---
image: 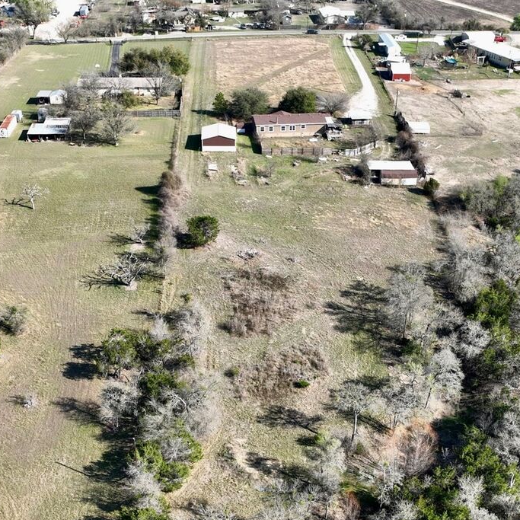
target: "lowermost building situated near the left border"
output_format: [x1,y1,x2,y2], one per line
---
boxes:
[25,111,69,140]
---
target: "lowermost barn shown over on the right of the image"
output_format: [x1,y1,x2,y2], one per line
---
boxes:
[366,159,419,184]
